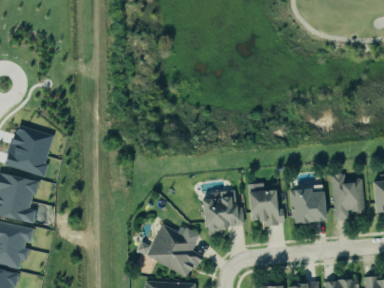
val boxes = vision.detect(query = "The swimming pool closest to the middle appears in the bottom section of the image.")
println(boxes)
[195,179,232,201]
